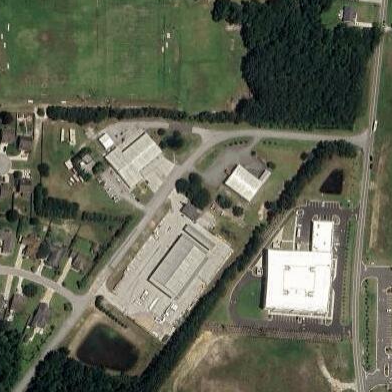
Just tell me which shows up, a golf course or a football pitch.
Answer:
football pitch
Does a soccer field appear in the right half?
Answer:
No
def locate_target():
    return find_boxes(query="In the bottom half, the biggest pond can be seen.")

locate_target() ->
[76,322,139,370]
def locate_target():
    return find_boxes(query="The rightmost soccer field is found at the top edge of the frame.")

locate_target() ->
[99,0,163,93]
